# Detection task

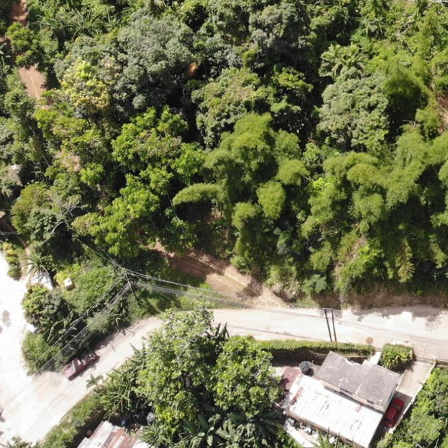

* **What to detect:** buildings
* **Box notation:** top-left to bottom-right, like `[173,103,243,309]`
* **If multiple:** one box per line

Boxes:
[83,421,154,448]
[287,351,400,448]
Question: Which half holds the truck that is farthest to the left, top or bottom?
bottom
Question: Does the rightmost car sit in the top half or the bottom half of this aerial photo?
bottom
